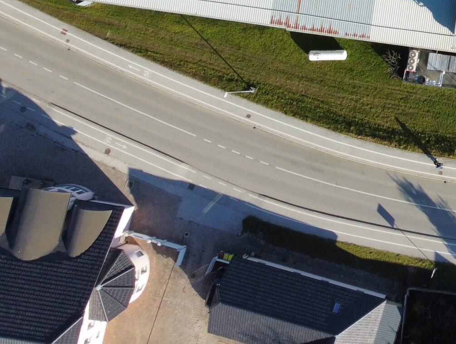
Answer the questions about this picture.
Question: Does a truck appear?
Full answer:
No, the scene contains no truck.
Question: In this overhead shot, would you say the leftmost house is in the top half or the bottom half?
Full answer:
The bottom half of the photo is where the leftmost house is.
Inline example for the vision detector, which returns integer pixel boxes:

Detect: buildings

[0,184,151,344]
[77,0,456,54]
[206,254,388,344]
